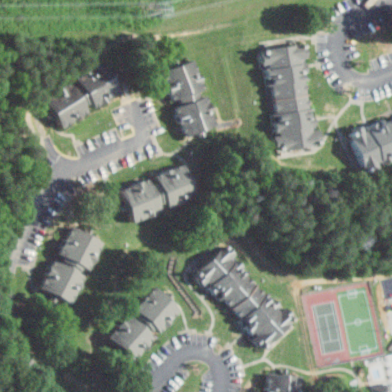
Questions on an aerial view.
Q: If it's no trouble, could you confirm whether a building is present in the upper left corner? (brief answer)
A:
Yes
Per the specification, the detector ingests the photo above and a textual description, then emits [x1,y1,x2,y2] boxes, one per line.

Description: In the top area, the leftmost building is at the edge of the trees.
[45,66,114,129]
